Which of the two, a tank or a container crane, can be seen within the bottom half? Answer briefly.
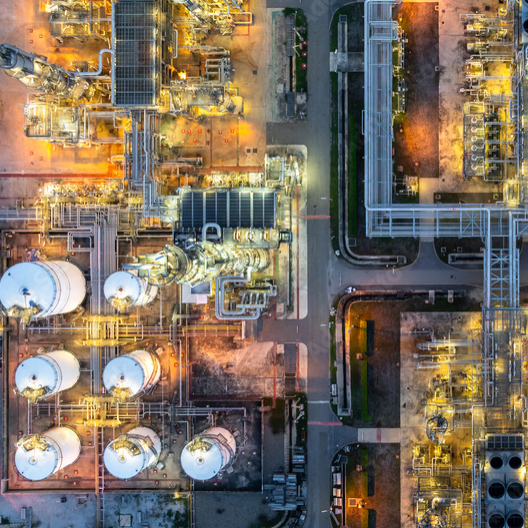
tank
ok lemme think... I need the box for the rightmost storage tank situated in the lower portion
[180,418,239,480]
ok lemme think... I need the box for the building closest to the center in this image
[183,283,216,305]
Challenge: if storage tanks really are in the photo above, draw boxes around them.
[103,270,162,313]
[14,347,83,402]
[102,416,167,479]
[0,259,87,322]
[14,426,83,481]
[180,418,239,480]
[102,347,166,402]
